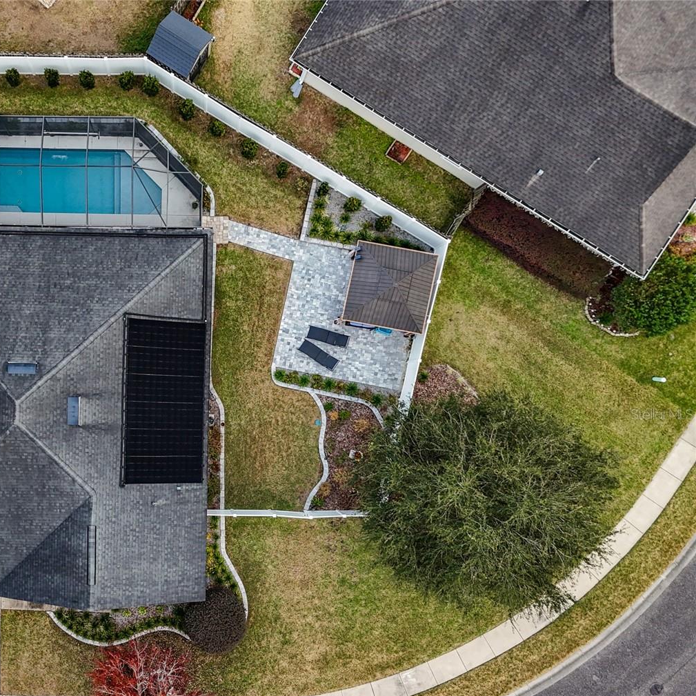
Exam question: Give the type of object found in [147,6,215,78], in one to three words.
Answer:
shed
